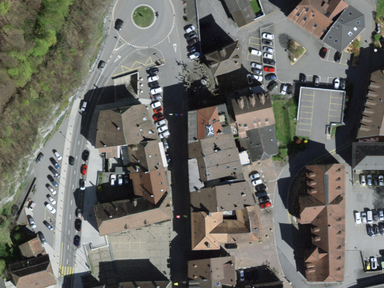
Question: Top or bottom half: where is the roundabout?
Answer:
top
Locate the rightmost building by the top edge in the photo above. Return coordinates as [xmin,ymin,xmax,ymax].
[322,6,366,51]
